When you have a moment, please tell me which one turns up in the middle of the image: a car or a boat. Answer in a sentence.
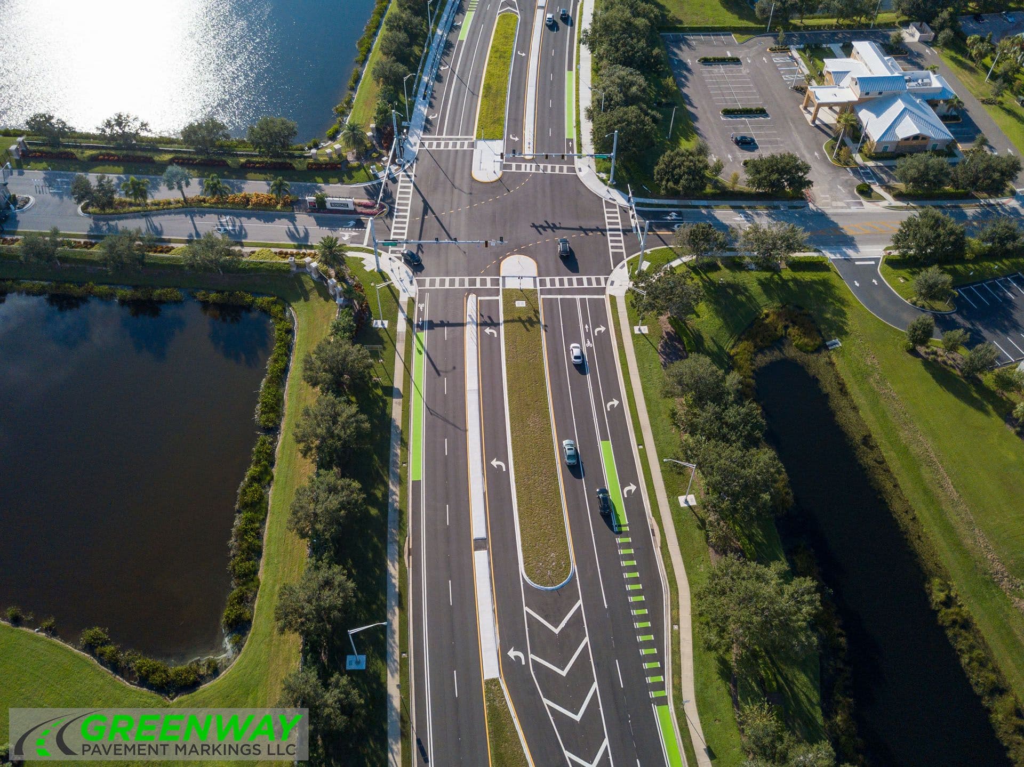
It is a car that can be seen in the middle of the image.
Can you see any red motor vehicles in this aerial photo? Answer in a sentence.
No, the frame has no red motor vehicle in it.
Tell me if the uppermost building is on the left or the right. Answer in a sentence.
The uppermost building appears in the right half of the scene.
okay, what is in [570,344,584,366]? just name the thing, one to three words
car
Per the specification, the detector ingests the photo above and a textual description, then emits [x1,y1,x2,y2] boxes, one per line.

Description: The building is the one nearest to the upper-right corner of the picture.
[797,35,954,153]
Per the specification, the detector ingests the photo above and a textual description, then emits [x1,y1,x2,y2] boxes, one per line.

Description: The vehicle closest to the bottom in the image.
[596,490,613,520]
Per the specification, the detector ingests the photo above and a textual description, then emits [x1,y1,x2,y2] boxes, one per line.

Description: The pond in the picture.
[0,287,286,692]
